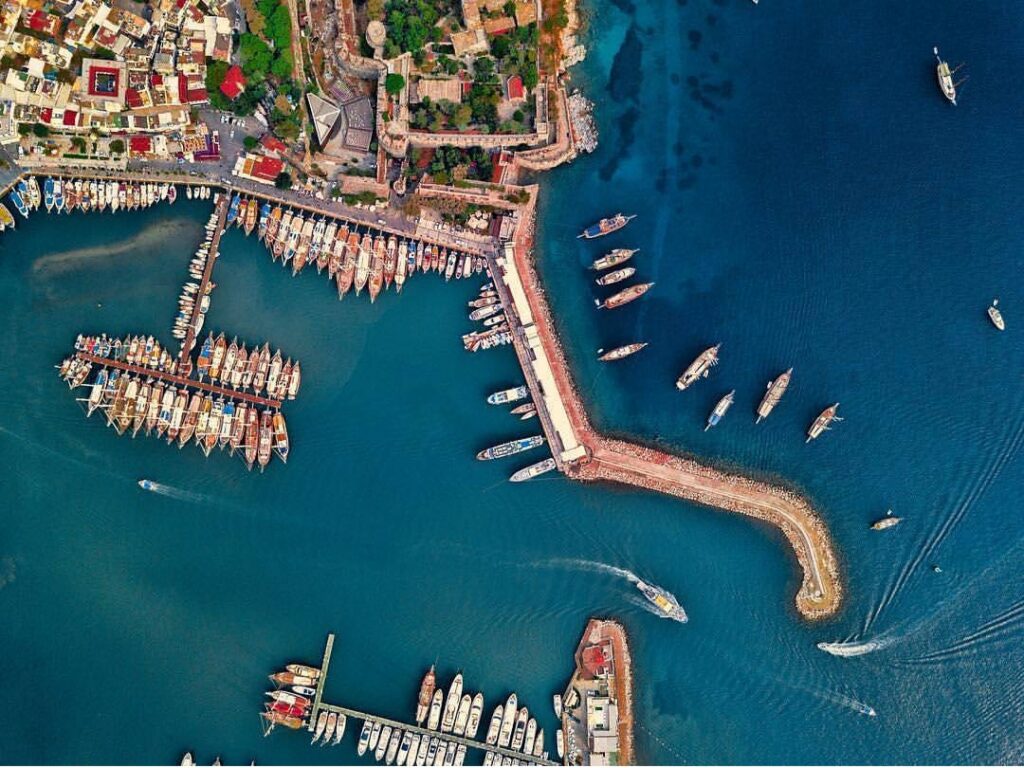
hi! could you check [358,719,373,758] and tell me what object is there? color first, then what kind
white boat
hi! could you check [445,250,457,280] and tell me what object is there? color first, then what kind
white boat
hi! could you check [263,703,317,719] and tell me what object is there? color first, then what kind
red boat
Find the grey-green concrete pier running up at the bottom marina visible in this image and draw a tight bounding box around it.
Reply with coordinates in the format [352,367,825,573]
[309,633,335,730]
